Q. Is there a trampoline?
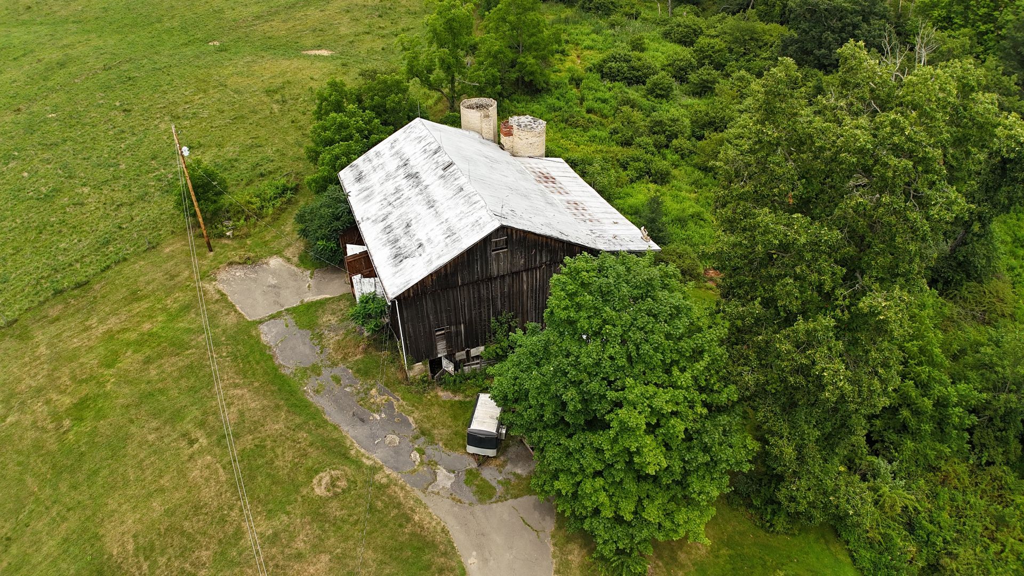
No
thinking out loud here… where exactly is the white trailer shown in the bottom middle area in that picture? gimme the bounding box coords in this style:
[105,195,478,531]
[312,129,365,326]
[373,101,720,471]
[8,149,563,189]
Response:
[467,394,505,467]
